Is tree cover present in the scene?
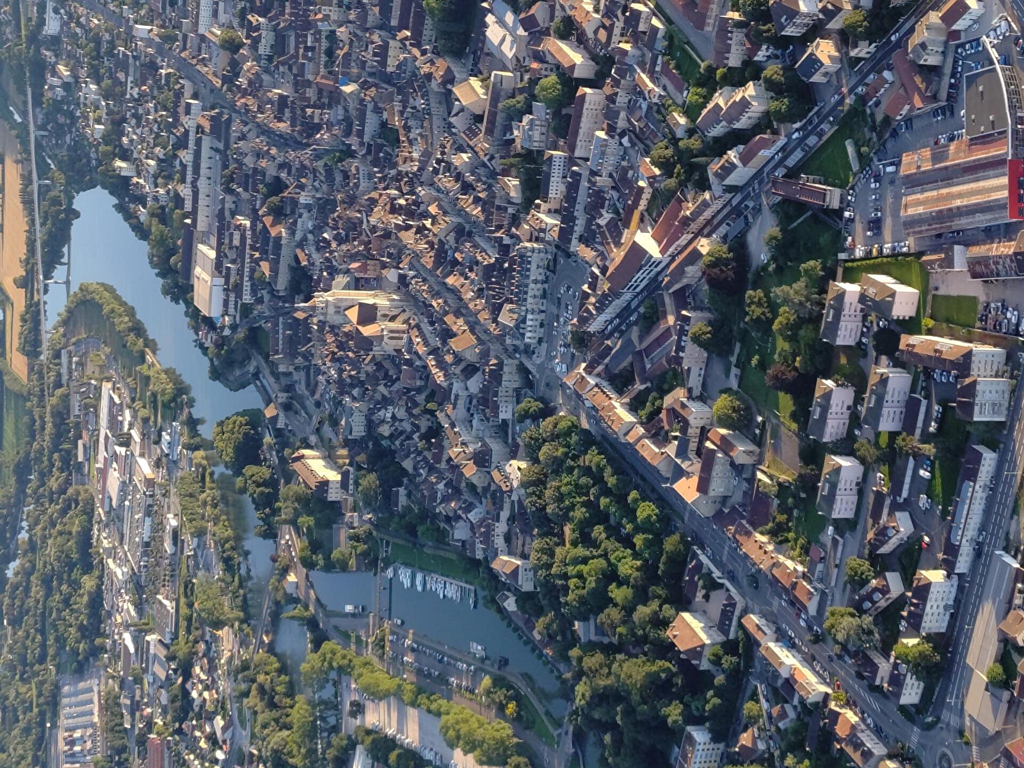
Yes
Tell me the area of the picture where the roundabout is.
bottom right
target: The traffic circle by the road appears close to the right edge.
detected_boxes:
[907,707,984,768]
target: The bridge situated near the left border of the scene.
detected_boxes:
[23,0,59,436]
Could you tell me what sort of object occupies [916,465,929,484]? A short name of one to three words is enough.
vehicle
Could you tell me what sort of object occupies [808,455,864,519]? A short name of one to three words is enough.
building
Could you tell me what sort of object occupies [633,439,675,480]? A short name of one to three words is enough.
house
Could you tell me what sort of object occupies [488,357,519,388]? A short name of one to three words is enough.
building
